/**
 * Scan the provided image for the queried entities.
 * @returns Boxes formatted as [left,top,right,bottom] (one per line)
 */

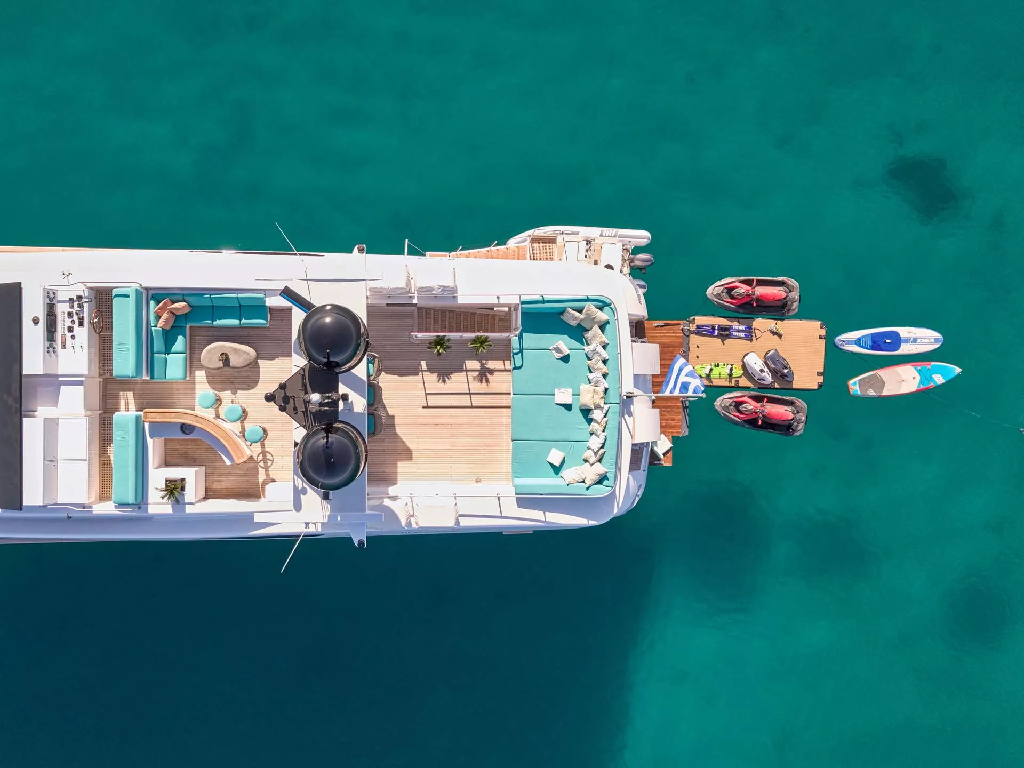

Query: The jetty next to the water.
[680,316,825,389]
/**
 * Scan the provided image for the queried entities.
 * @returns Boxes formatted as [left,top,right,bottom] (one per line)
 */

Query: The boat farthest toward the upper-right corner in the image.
[704,276,802,314]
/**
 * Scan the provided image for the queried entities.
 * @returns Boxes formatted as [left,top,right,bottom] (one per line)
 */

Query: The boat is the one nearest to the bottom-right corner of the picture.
[712,391,811,433]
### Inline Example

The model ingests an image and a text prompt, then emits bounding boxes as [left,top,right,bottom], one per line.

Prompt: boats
[712,391,811,433]
[510,225,655,293]
[0,223,689,574]
[704,276,802,314]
